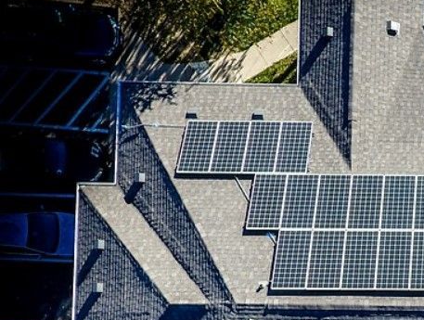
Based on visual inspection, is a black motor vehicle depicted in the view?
Yes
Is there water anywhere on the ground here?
No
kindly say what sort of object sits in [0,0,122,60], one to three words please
car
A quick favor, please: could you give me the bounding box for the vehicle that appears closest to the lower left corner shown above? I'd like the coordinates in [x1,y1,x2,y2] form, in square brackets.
[0,204,76,260]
